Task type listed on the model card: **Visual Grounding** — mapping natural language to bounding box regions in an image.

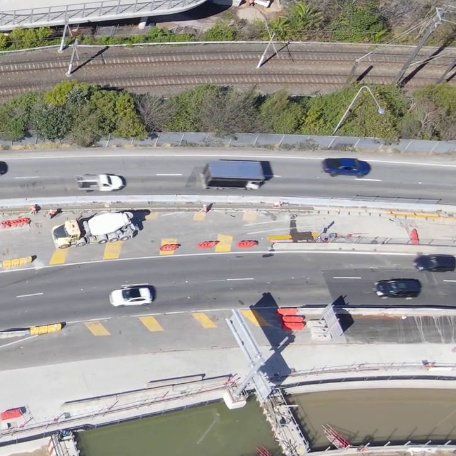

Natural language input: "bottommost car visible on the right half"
[372,278,426,303]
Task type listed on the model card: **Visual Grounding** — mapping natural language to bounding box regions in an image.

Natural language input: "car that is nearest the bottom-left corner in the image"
[107,284,158,311]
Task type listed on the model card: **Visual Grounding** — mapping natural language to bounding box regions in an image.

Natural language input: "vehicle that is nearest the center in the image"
[202,158,270,190]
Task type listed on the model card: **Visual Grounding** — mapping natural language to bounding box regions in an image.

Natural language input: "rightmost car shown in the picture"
[408,253,456,277]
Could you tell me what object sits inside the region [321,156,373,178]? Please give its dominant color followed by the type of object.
blue car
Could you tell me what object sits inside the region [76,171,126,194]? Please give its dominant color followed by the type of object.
white car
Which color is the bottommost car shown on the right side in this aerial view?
black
